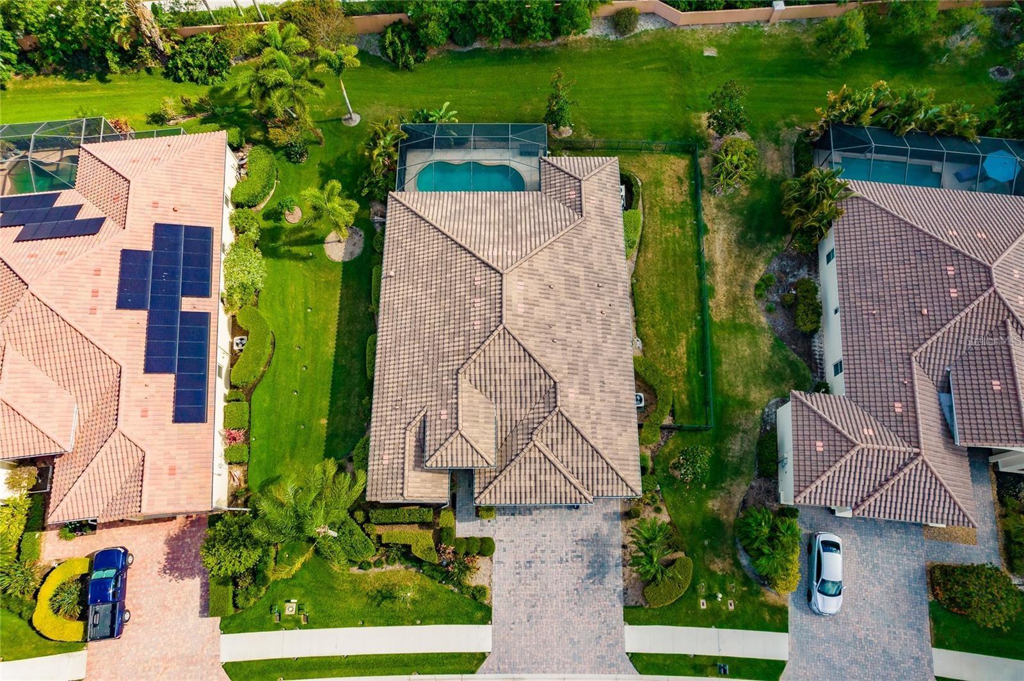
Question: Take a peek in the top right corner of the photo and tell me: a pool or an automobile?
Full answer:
The one visible in the top right corner of the photo is a pool.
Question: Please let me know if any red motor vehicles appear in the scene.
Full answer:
No, there is no red motor vehicle in the image.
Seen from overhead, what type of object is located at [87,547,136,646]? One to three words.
truck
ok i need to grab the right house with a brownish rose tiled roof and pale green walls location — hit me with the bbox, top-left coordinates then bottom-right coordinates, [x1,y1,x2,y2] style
[778,180,1024,527]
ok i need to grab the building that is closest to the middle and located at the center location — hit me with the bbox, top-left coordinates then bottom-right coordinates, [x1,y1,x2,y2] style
[365,156,642,505]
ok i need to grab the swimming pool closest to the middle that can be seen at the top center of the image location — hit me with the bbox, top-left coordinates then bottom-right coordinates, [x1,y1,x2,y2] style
[412,157,529,191]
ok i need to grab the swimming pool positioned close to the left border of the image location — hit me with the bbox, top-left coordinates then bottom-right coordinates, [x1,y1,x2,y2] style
[1,154,78,195]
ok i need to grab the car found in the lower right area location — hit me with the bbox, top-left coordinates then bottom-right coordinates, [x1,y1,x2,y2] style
[810,534,851,618]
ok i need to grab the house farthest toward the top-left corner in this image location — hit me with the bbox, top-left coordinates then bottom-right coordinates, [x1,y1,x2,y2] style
[0,130,238,529]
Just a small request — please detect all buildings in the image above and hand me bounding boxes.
[365,156,642,505]
[778,180,1024,527]
[0,130,238,529]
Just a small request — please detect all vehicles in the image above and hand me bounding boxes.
[87,547,136,646]
[810,534,851,618]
